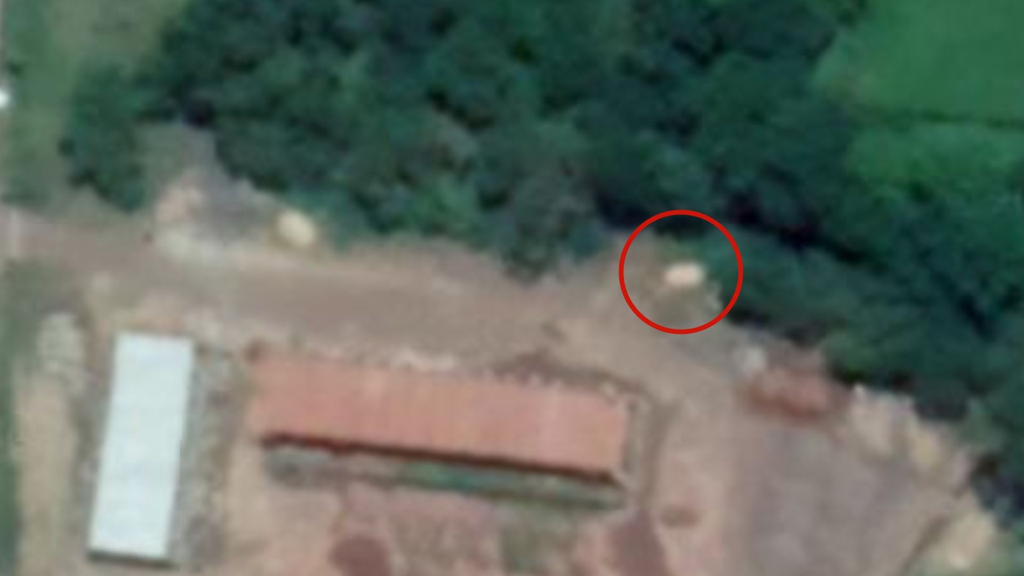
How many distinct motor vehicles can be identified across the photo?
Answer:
0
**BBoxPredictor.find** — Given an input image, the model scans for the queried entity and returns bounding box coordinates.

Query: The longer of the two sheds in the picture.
[250,356,633,503]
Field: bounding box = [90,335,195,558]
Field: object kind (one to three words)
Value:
shed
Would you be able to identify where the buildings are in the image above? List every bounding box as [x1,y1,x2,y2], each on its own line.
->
[250,356,633,503]
[90,335,195,558]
